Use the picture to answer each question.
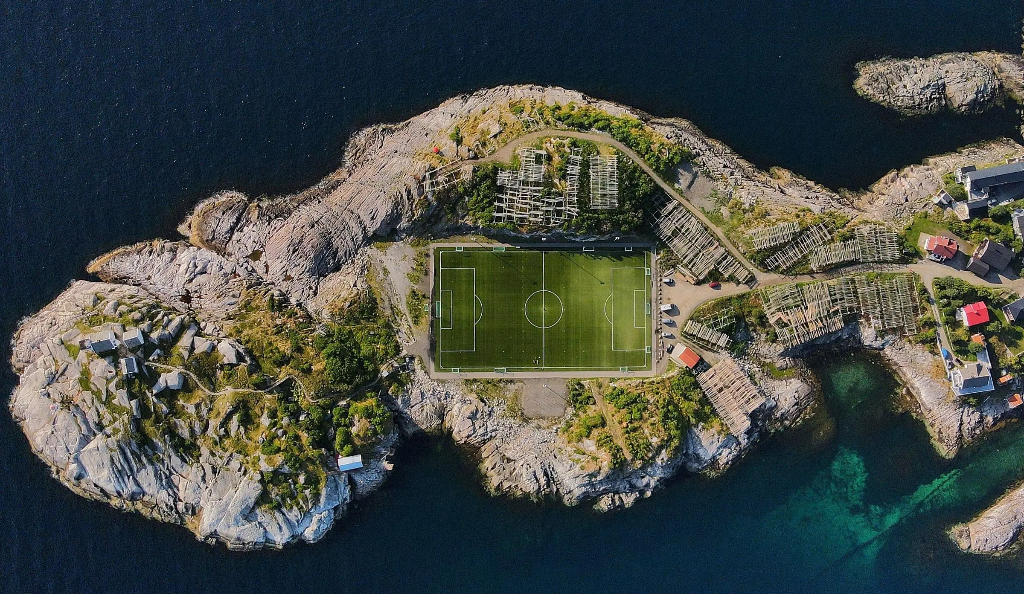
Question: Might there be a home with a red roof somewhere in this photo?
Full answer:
Yes, a home with a red roof can be made out from above.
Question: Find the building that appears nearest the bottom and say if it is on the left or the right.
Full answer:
The building that appears nearest the bottom sits on the left side.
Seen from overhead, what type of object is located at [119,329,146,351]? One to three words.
house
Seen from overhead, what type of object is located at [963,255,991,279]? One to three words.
building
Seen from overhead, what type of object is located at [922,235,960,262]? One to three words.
house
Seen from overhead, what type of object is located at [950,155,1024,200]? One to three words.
building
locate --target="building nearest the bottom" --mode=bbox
[335,453,365,473]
